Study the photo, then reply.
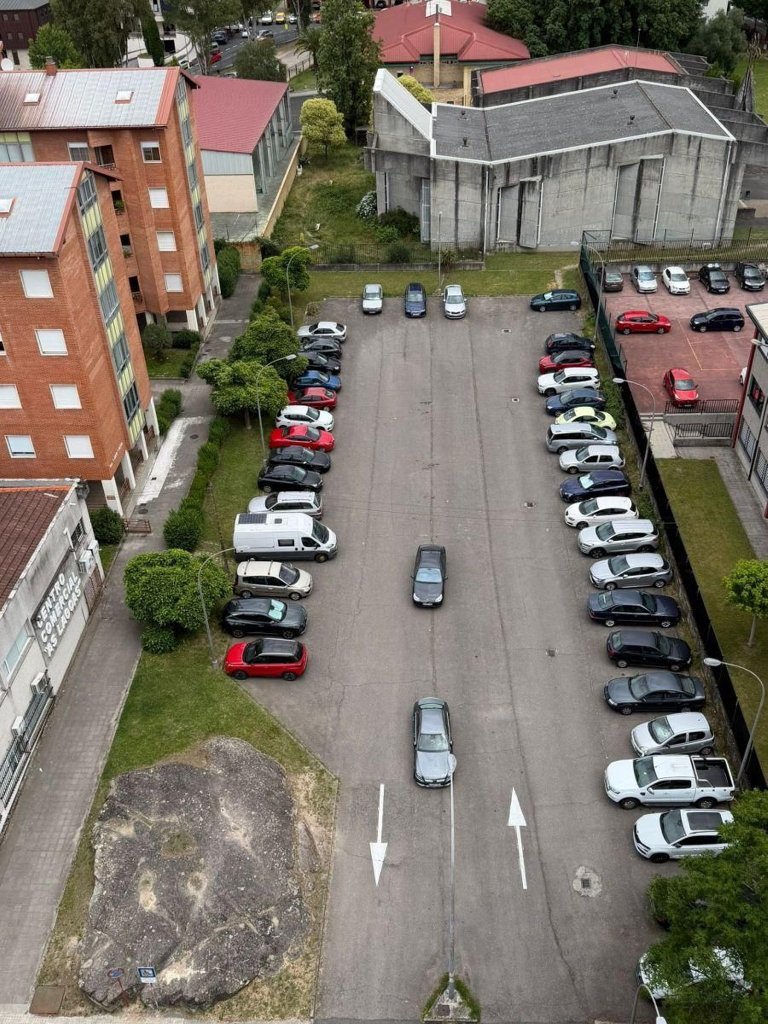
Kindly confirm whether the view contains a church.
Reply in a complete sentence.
Yes, there's a church down there.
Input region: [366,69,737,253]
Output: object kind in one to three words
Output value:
church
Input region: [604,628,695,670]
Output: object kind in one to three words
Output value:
car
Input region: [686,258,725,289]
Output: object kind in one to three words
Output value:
car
